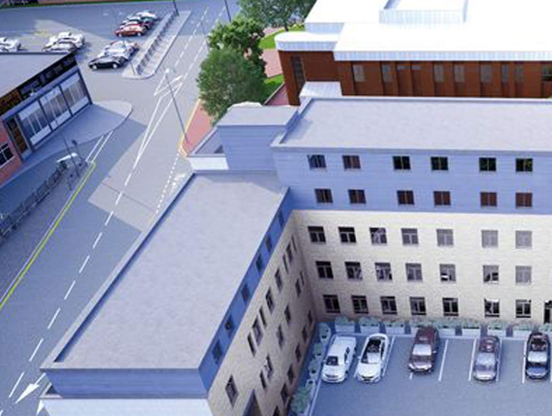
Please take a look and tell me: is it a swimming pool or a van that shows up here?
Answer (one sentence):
It is a van that can be seen here.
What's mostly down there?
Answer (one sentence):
The bulk of the photo consists of buildings.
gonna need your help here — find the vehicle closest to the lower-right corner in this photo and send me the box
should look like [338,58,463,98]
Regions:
[522,329,552,379]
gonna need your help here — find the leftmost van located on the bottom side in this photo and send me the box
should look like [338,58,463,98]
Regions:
[320,325,357,380]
